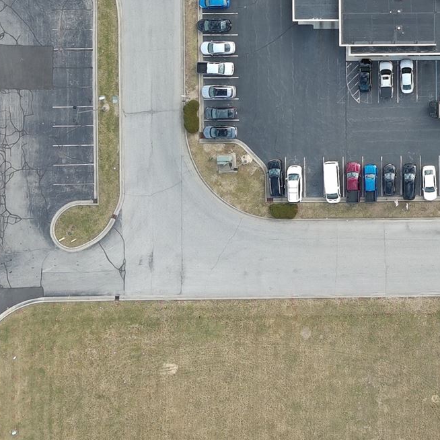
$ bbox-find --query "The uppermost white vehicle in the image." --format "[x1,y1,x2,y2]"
[201,40,237,57]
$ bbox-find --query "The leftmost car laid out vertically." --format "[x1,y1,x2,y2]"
[265,160,284,199]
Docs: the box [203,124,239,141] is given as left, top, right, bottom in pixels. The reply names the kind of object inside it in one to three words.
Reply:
car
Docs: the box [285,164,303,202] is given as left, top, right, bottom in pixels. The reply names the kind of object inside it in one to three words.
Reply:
car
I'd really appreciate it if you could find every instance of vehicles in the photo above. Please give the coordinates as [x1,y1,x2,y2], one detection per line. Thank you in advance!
[427,103,440,123]
[344,161,362,203]
[285,164,303,202]
[322,160,342,203]
[357,59,374,95]
[198,60,235,77]
[206,105,239,122]
[265,160,284,199]
[202,84,238,101]
[201,40,237,57]
[200,0,232,11]
[198,18,233,34]
[381,163,397,196]
[400,59,415,95]
[380,60,394,98]
[203,124,239,141]
[421,164,439,201]
[362,163,378,203]
[401,162,418,201]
